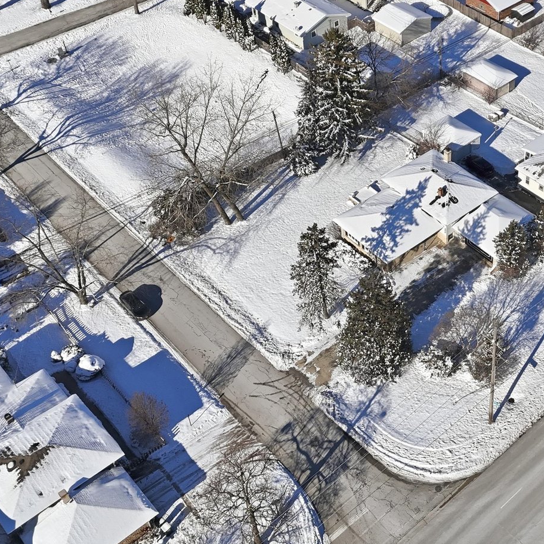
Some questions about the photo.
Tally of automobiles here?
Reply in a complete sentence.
The count of automobiles comes to 2.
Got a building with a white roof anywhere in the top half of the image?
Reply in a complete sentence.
Yes, a building with a white roof appears in the top half of the image.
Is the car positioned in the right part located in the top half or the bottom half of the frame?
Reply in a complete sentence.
You can find the car positioned in the right part in the top half.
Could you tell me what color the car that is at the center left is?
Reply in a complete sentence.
From above, the car that is at the center left appears black.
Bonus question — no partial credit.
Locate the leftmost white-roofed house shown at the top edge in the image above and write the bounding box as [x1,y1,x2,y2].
[245,0,351,51]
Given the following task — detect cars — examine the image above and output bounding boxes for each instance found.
[118,291,151,321]
[462,153,496,180]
